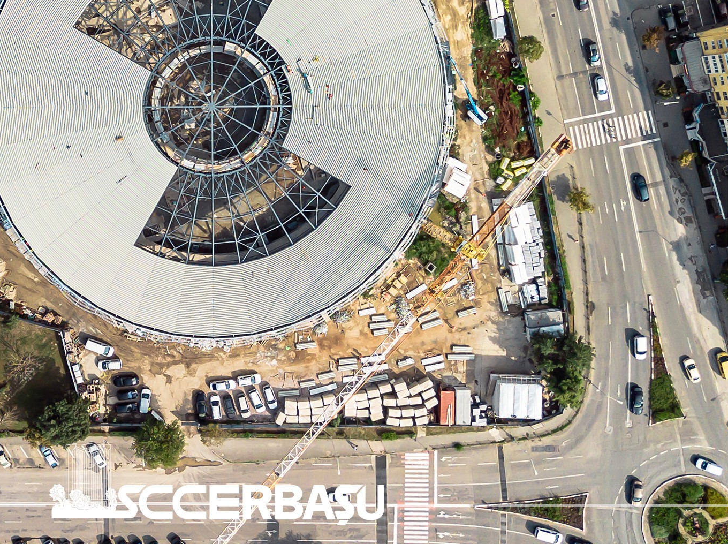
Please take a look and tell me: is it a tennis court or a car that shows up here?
car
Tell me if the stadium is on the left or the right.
left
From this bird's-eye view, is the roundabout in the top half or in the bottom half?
bottom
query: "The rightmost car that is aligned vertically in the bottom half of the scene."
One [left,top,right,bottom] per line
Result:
[715,350,728,377]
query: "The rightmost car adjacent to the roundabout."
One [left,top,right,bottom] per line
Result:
[694,456,723,475]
